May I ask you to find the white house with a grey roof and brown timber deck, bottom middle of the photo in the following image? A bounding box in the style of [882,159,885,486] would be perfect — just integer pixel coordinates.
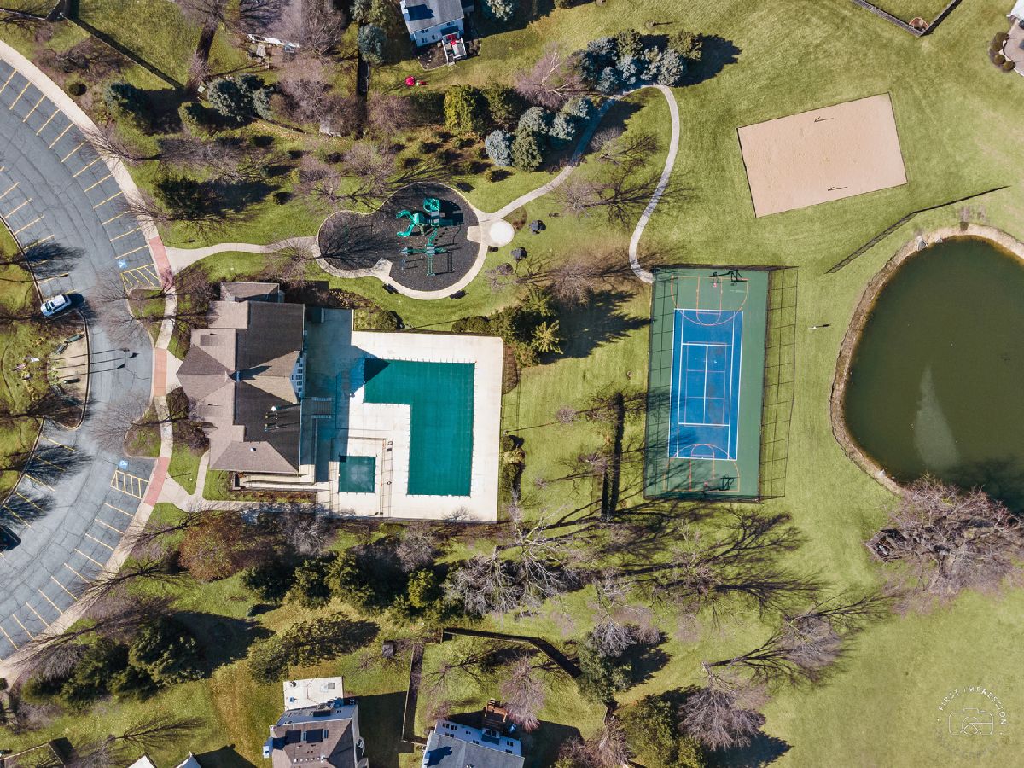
[416,719,522,768]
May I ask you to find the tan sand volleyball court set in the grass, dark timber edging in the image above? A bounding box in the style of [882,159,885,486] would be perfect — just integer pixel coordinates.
[738,92,908,217]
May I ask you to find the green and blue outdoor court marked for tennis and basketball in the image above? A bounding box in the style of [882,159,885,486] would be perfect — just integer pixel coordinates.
[644,268,770,500]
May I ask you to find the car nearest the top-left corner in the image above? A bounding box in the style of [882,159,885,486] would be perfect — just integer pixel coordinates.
[38,294,71,315]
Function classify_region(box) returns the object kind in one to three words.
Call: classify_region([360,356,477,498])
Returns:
swimming pool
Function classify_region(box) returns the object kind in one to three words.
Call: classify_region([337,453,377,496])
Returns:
swimming pool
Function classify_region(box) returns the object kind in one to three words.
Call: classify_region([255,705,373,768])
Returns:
house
